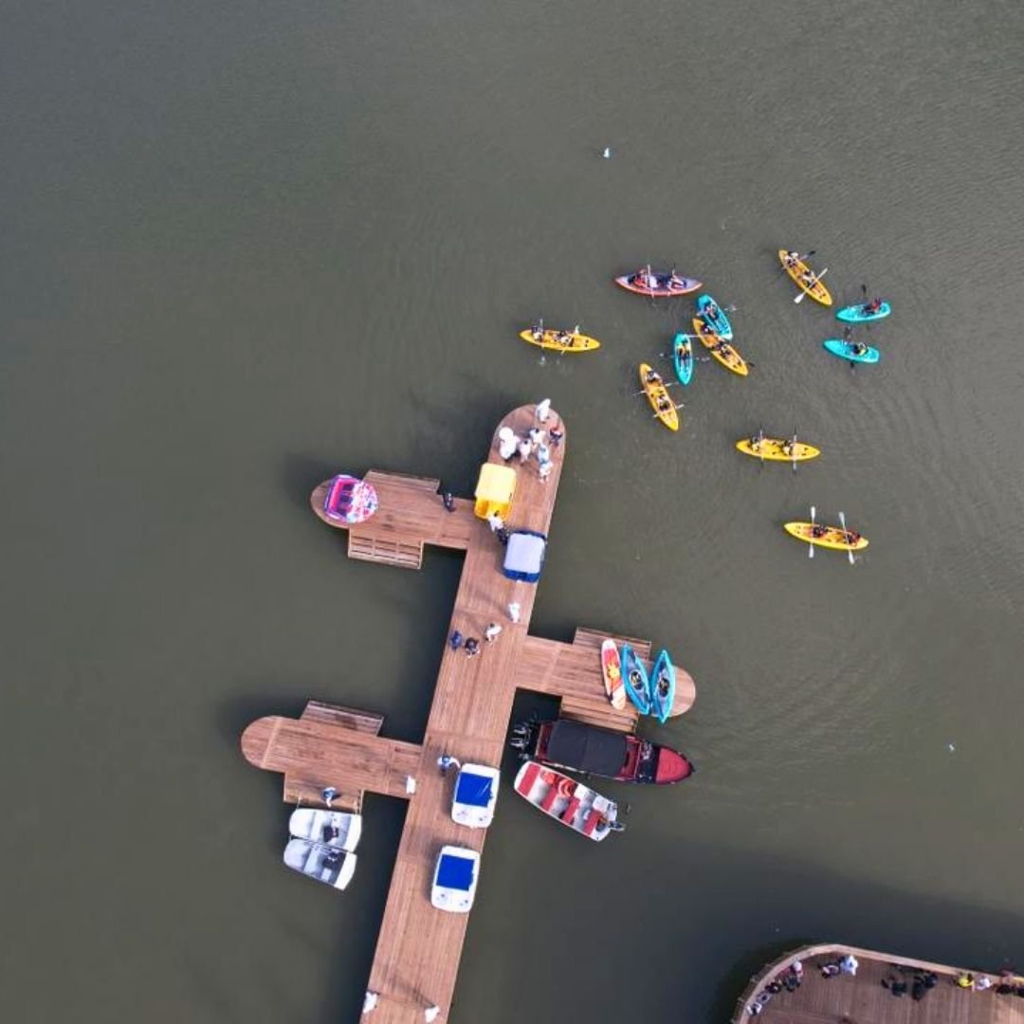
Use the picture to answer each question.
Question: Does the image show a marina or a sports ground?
marina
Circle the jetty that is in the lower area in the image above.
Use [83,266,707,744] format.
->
[241,406,695,1024]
